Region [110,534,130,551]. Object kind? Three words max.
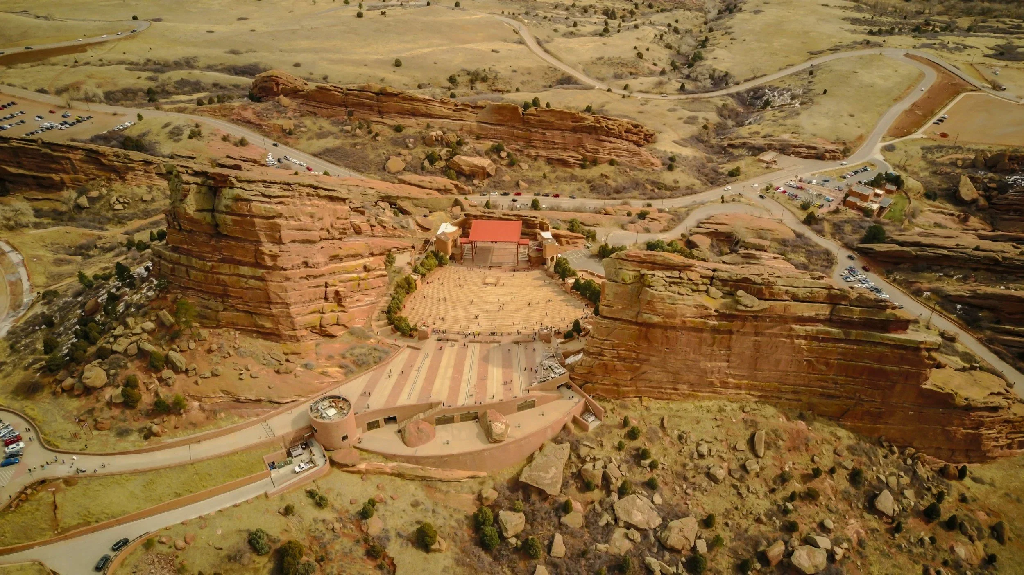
car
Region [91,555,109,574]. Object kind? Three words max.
car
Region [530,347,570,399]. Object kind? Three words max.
building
